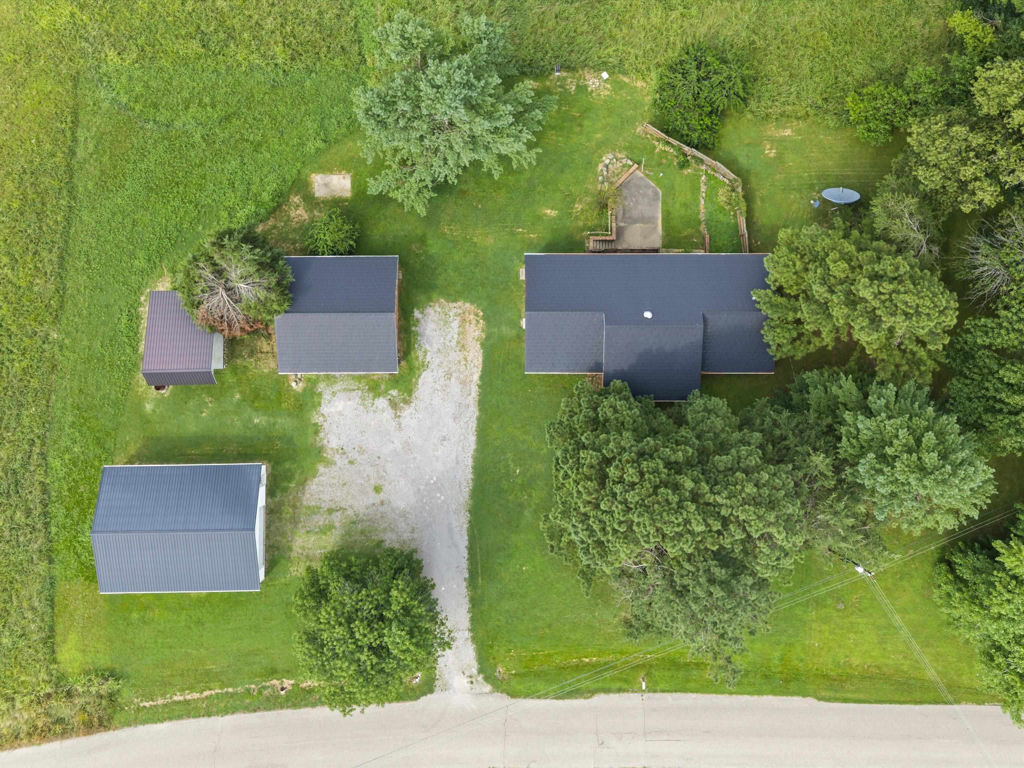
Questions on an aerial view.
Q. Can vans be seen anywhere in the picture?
No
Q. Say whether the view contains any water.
No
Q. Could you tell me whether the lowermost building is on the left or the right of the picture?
left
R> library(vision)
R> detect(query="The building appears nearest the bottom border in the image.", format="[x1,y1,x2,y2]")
[90,462,269,595]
